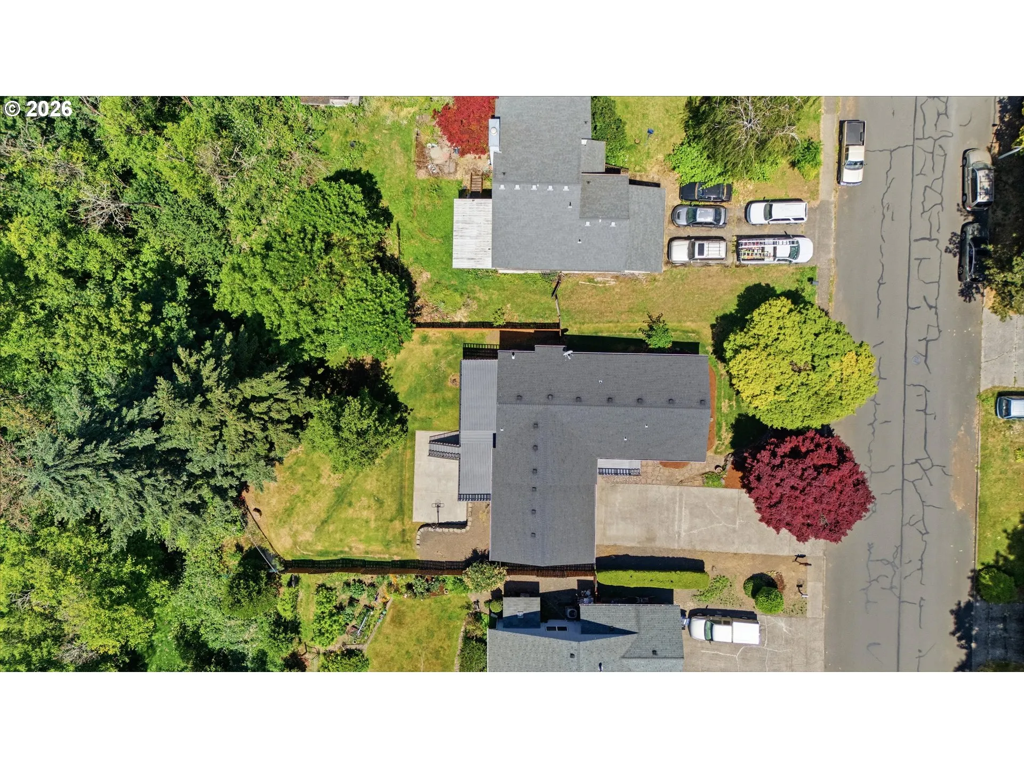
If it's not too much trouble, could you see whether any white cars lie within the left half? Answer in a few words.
No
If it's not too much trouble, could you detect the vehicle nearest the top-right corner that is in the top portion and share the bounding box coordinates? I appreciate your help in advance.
[959,152,994,212]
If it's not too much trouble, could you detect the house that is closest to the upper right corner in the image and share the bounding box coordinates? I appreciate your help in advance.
[488,93,666,275]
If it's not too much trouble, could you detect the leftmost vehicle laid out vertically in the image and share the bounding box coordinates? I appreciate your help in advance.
[837,120,868,187]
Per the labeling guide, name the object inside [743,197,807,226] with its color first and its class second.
white car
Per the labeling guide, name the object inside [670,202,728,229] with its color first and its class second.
gray car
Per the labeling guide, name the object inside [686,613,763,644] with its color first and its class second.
white truck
